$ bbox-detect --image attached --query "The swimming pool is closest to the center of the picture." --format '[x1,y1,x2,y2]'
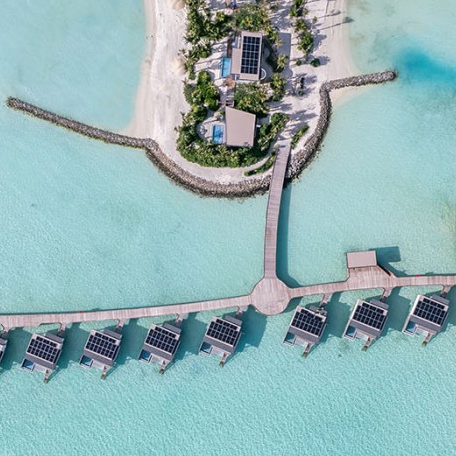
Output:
[211,123,226,145]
